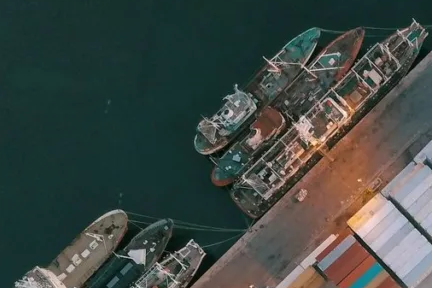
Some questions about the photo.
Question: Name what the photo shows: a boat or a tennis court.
boat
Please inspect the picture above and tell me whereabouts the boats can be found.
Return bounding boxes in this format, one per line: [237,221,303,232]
[128,239,211,288]
[86,218,178,288]
[193,26,322,158]
[225,18,425,222]
[13,208,134,288]
[205,25,366,194]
